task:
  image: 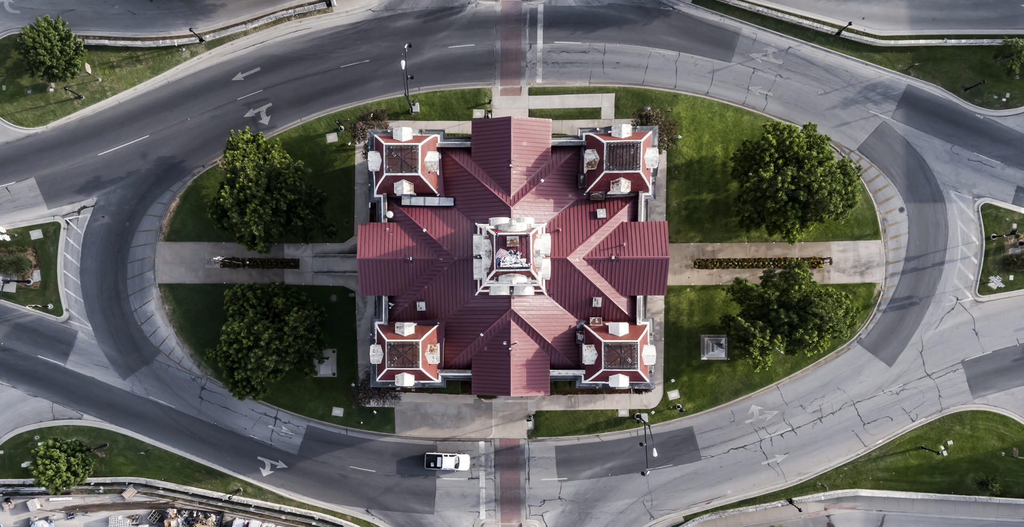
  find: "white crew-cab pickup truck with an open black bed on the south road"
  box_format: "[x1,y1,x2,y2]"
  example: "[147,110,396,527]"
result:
[423,453,470,472]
